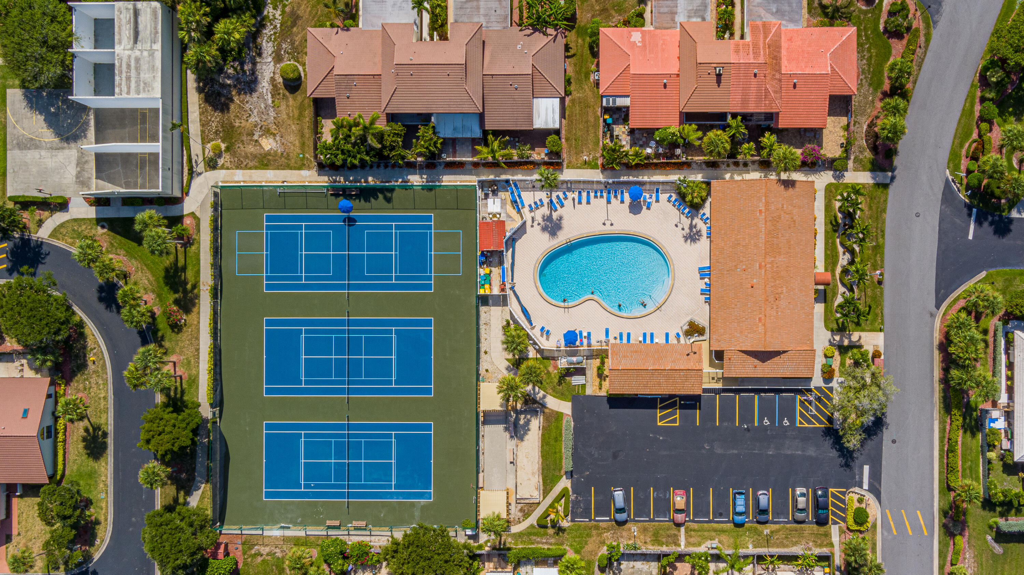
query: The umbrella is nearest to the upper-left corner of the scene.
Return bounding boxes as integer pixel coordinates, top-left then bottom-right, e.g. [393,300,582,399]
[338,199,353,214]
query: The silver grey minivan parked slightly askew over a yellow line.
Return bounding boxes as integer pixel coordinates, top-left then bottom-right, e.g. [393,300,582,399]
[612,488,629,524]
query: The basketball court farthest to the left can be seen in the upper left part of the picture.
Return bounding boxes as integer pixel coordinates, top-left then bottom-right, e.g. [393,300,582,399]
[6,89,94,196]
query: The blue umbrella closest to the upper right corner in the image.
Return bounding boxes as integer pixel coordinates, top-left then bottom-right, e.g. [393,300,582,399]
[628,186,643,201]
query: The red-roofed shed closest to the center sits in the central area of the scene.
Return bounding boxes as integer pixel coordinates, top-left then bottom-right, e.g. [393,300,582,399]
[479,220,505,250]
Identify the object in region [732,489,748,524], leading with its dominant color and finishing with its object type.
blue vehicle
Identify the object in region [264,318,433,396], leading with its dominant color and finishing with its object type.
blue tennis court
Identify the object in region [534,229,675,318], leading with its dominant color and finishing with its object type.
blue swimming pool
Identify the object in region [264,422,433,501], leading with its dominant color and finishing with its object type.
blue tennis court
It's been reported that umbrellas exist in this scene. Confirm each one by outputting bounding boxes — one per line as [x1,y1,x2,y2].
[338,199,353,214]
[628,186,643,201]
[563,330,578,345]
